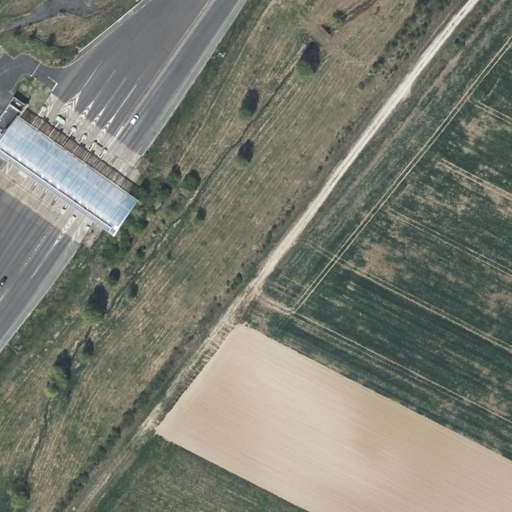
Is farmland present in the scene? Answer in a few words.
Yes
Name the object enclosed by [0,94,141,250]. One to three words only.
toll station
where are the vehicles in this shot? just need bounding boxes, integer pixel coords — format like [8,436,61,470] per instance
[130,114,140,125]
[0,276,8,286]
